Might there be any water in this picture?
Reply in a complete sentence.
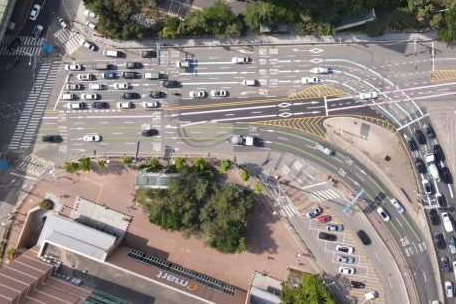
No, there is no water in the image.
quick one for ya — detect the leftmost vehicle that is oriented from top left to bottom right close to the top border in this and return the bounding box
[56,15,72,32]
